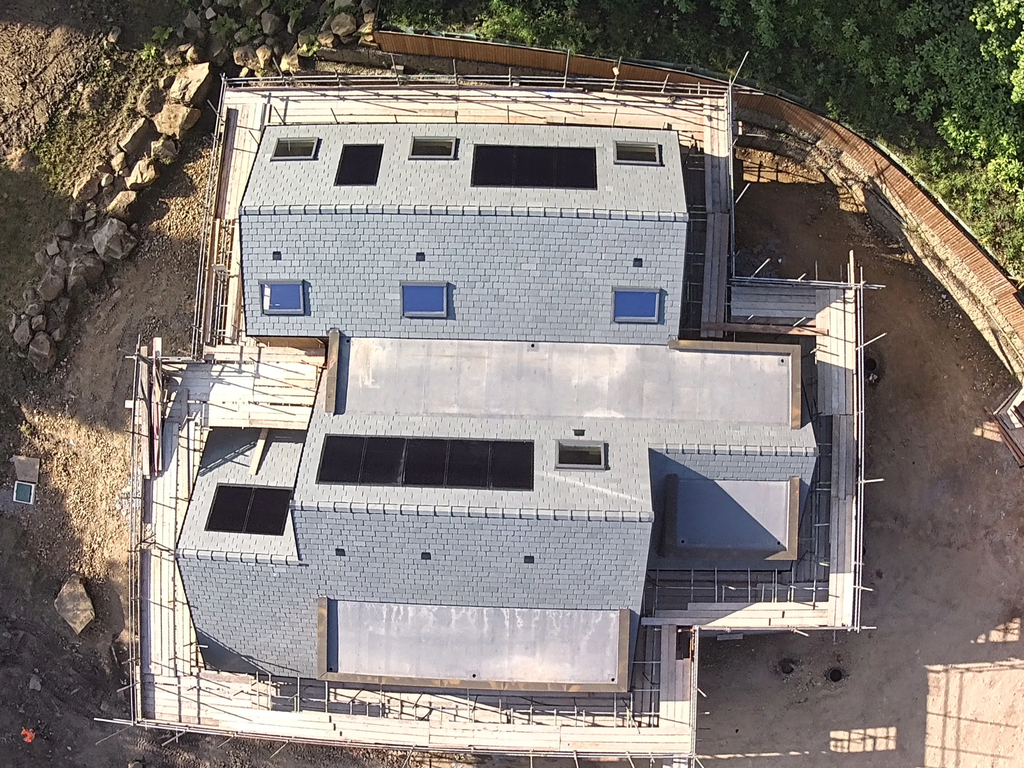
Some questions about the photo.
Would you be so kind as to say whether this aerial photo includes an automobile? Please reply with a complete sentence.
No, the photo shows no automobile.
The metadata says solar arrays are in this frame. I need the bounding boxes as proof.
[205,485,293,533]
[334,144,384,185]
[471,146,597,188]
[315,435,534,490]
